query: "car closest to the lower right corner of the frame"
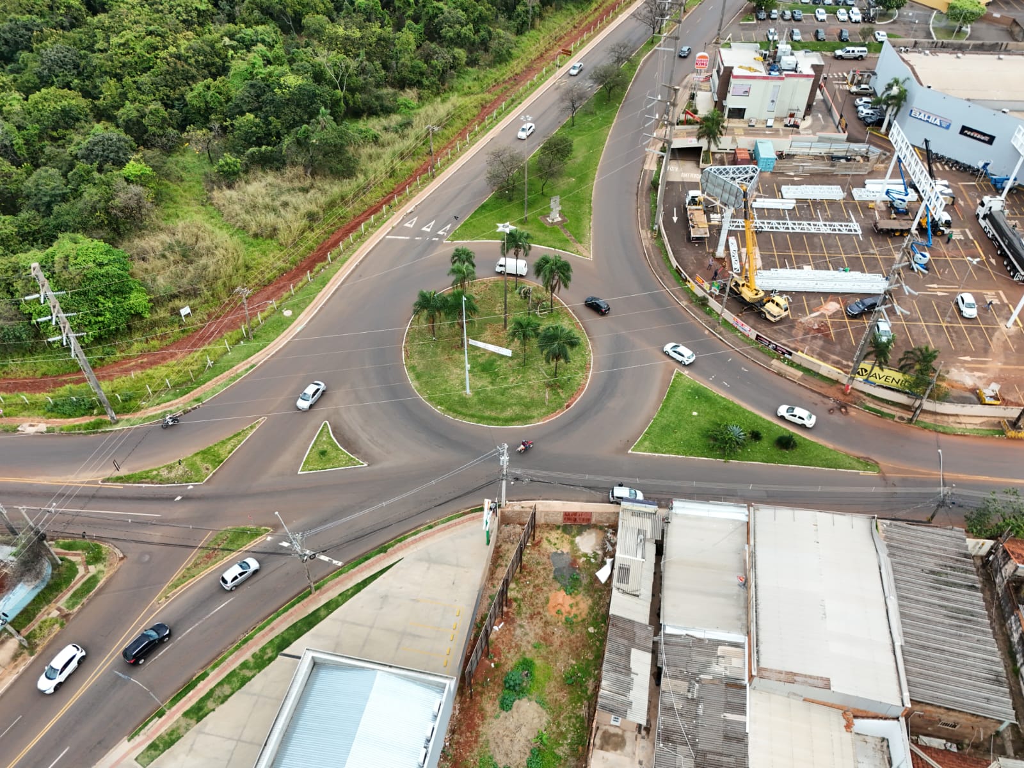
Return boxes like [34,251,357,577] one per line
[778,404,819,429]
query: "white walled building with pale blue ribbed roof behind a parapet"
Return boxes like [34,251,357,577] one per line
[252,648,457,768]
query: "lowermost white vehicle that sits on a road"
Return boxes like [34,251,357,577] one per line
[32,642,85,693]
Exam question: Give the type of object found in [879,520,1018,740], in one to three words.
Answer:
shed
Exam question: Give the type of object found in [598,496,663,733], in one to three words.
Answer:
house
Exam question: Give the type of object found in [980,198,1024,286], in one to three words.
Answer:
truck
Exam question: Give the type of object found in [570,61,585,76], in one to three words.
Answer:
car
